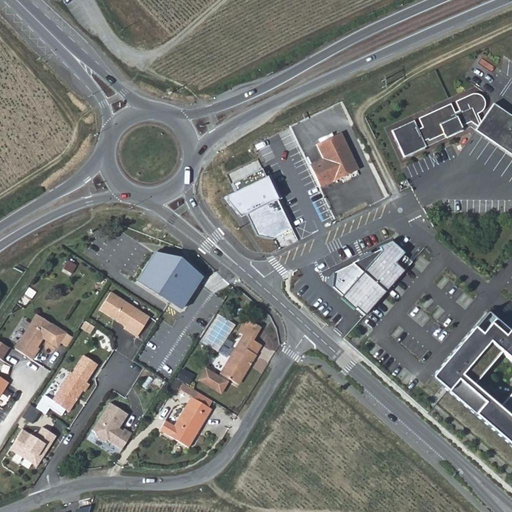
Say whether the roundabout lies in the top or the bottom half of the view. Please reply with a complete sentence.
The roundabout is in the top half of the image.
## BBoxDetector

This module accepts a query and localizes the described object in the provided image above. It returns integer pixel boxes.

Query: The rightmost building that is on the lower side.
[436,312,512,446]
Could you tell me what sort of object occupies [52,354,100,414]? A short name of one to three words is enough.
house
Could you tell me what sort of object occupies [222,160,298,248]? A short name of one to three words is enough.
building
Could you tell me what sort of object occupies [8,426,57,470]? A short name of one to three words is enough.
house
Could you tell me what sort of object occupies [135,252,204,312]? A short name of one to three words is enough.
building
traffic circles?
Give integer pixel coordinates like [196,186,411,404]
[96,97,200,210]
